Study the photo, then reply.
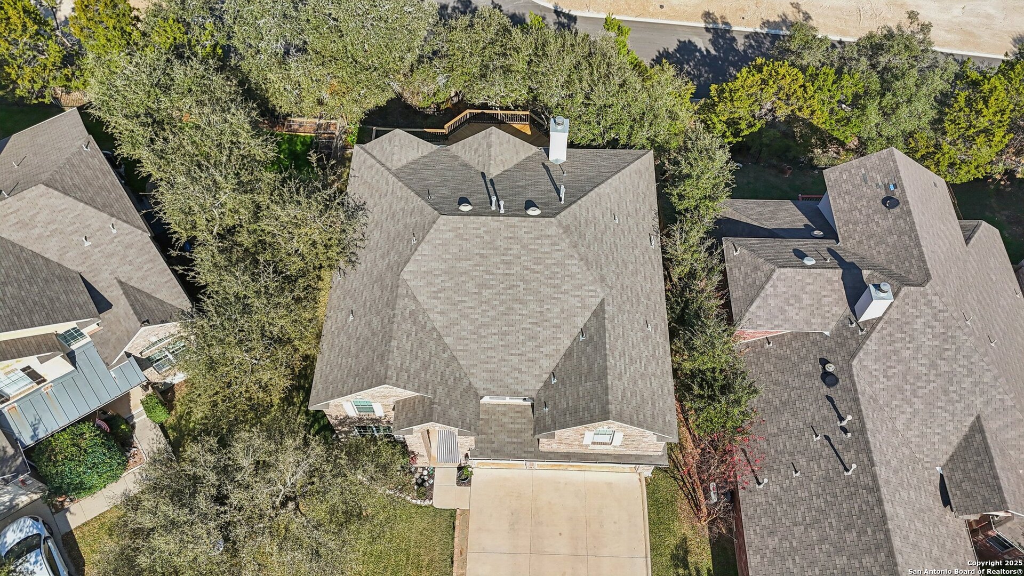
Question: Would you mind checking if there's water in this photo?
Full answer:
No, water can't be seen anywhere here.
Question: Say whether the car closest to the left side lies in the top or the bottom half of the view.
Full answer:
The bottom half of the photo is where the car closest to the left side is.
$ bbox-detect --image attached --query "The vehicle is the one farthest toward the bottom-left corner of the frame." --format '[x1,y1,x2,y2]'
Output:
[5,514,79,576]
